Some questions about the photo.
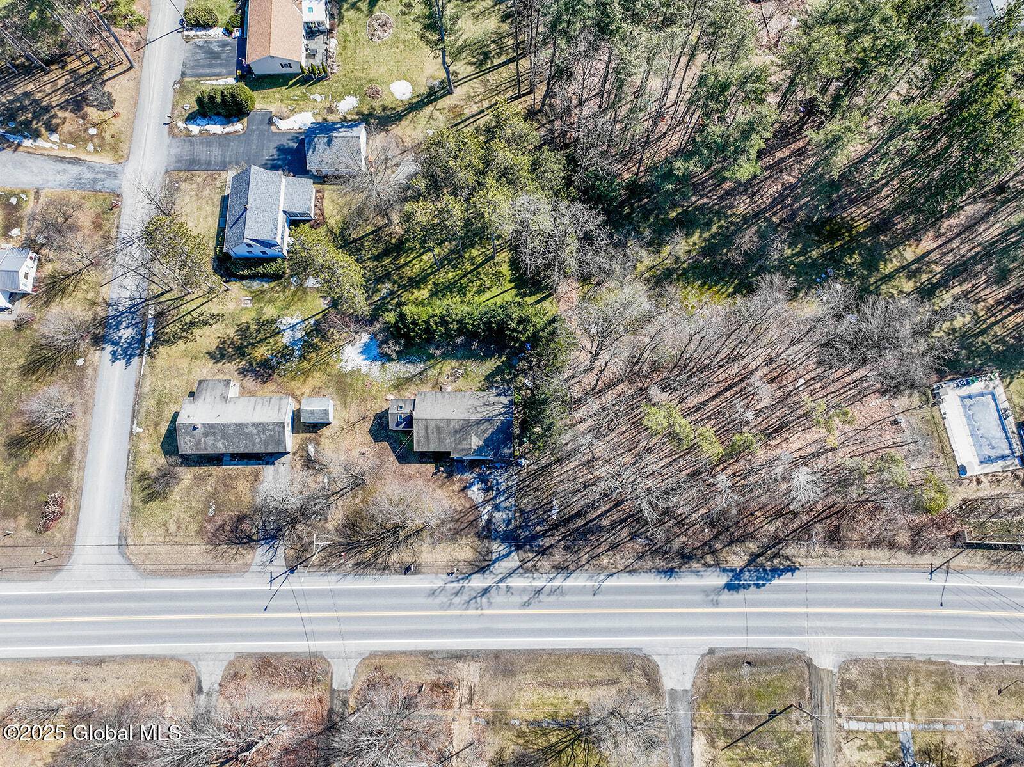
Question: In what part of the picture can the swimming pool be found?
right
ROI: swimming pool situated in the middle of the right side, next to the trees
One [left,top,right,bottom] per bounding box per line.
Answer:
[932,376,1024,477]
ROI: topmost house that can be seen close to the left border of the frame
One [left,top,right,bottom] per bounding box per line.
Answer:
[0,247,37,302]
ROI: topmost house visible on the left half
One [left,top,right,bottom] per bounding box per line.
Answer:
[246,0,331,73]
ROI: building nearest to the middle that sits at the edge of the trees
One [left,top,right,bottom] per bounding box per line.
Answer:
[388,392,513,459]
